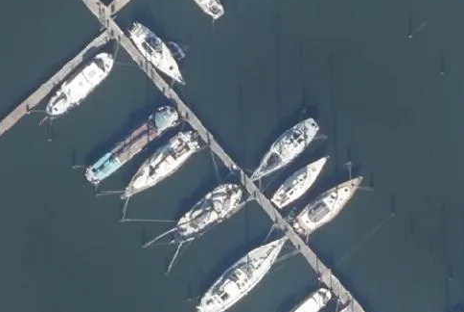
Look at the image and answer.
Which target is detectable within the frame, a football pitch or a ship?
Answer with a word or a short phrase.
ship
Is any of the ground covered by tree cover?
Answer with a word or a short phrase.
No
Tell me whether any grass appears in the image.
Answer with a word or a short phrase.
No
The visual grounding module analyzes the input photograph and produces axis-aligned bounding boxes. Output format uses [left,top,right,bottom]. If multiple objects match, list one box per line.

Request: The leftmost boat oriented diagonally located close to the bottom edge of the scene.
[197,237,289,312]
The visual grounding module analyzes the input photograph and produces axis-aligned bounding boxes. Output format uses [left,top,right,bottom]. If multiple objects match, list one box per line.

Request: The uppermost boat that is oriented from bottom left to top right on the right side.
[252,118,329,179]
